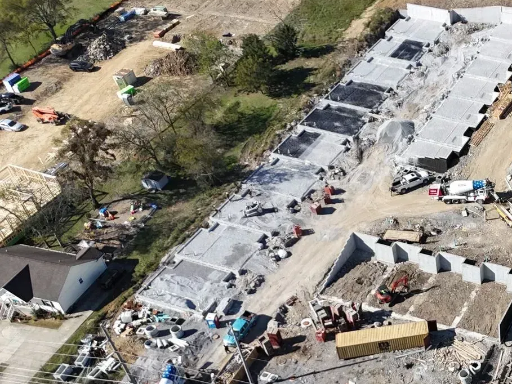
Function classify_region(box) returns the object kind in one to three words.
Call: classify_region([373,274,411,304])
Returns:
work vehicle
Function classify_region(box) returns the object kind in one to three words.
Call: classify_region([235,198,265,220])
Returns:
work vehicle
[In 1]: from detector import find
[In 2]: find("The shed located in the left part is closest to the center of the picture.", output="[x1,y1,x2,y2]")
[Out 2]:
[143,165,169,188]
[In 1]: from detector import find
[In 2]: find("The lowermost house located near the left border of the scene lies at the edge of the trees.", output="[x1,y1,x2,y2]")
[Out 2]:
[0,238,114,329]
